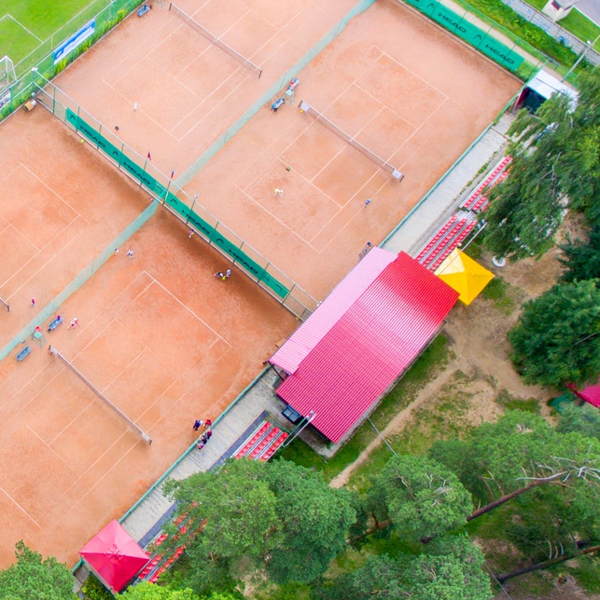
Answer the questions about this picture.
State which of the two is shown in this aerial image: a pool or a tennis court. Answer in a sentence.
Looking from above, you can make out a tennis court.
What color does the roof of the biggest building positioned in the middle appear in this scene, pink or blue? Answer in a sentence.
In this view, the roof of the biggest building positioned in the middle is pink.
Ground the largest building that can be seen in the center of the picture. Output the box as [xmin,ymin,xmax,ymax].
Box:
[263,246,460,461]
